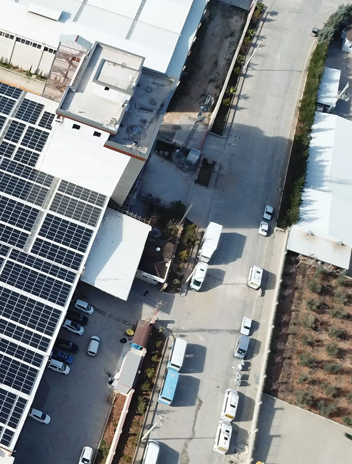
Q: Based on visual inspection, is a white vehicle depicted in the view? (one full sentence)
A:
Yes, the photo shows a white vehicle.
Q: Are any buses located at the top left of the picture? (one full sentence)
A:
No, no bus is visible at the top left of the picture.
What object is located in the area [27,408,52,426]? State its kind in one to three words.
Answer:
car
